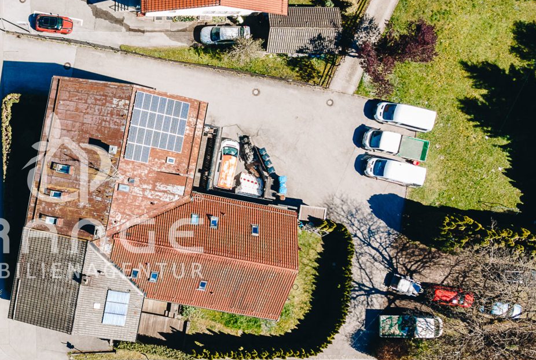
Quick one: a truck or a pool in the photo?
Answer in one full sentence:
There is a truck in the scene.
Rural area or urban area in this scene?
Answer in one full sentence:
The area shown here is urban.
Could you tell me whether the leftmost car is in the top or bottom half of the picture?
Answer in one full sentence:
The leftmost car is in the top half of the image.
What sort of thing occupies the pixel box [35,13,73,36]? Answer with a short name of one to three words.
car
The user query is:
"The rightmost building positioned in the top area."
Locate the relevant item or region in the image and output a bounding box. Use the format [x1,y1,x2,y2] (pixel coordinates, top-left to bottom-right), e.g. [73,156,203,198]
[263,7,344,57]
